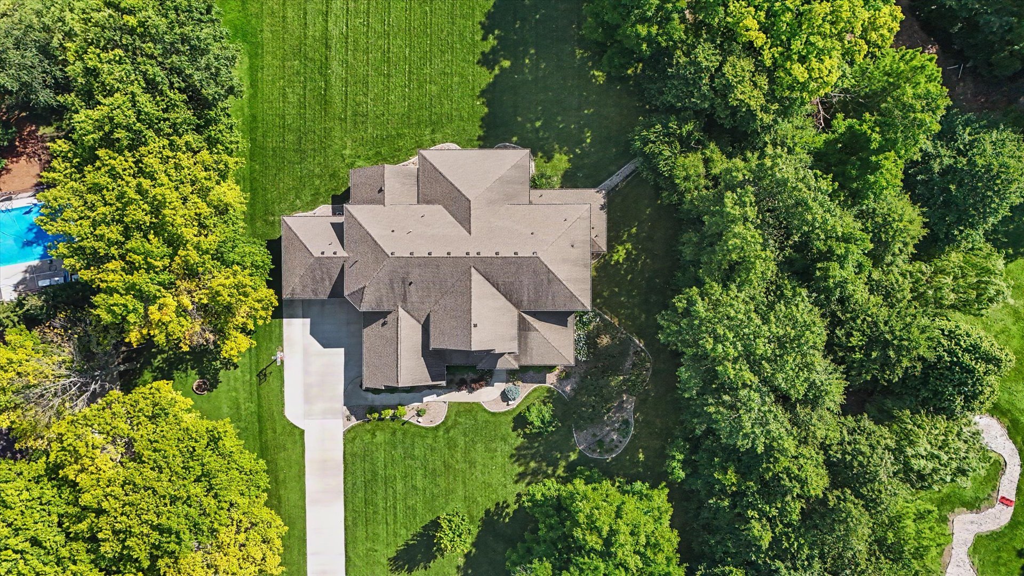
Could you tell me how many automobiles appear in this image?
zero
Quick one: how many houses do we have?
1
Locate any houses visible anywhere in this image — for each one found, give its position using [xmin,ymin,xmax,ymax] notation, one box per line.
[280,148,609,390]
